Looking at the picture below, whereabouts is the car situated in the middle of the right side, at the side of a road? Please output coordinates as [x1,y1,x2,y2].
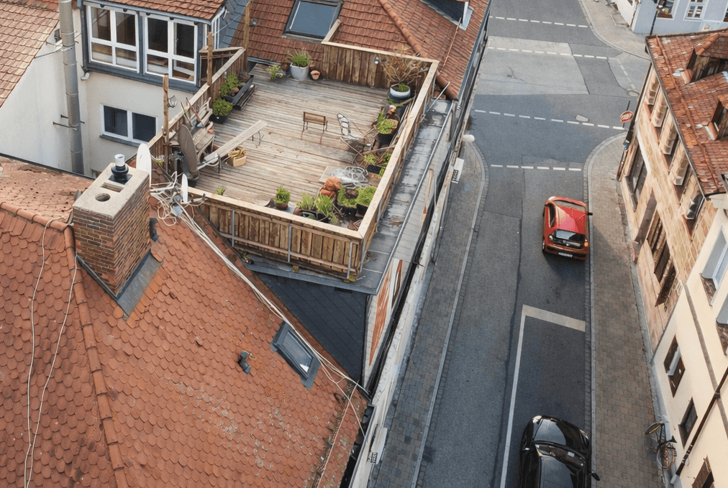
[538,191,592,254]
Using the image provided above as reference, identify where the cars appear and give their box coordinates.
[538,191,592,254]
[524,411,602,488]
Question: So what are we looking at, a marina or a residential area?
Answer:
residential area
